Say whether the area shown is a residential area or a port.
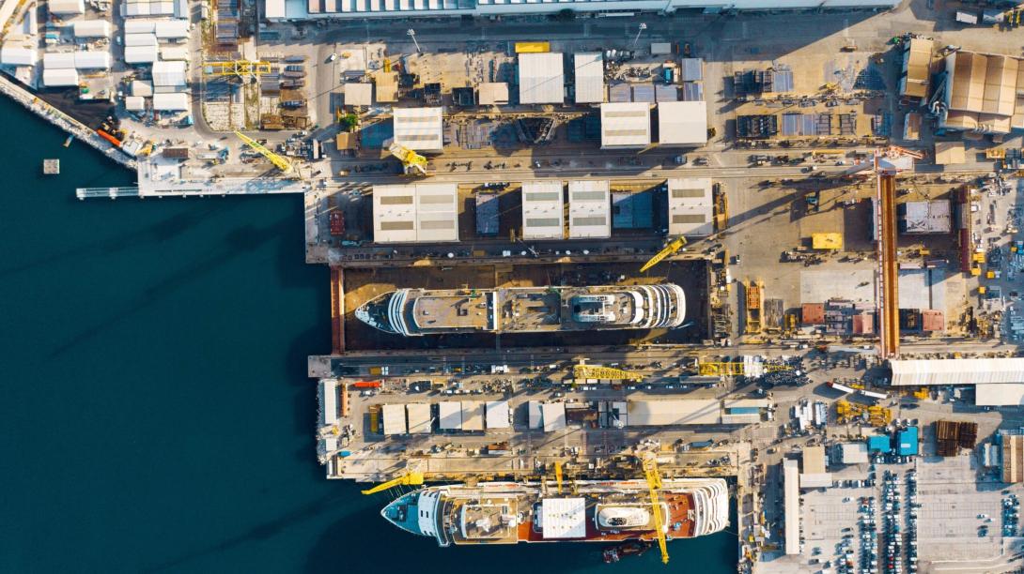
port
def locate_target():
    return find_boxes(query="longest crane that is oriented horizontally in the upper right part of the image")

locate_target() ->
[894,148,951,163]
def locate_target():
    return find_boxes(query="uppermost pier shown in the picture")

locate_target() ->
[77,187,139,200]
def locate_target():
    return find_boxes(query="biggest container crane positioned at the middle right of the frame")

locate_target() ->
[814,149,900,358]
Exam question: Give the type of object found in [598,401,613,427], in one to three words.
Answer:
shed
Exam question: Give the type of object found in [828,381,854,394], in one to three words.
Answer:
vehicle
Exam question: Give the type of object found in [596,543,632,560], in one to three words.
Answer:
boat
